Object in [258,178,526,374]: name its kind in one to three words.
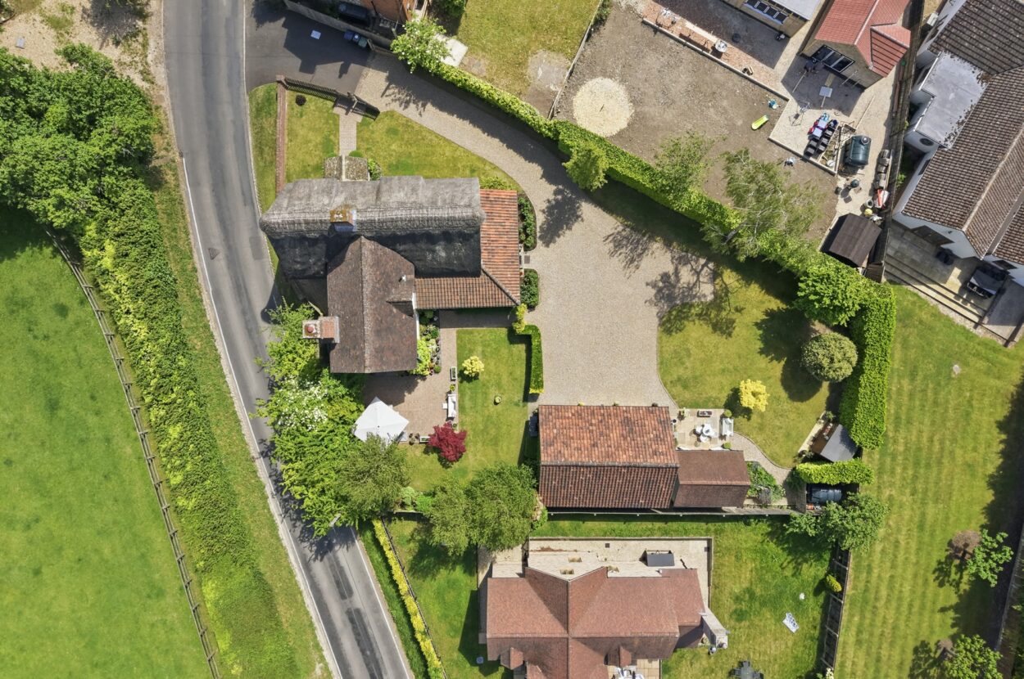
house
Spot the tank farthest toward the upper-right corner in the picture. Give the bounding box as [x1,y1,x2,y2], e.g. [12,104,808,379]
[842,136,872,170]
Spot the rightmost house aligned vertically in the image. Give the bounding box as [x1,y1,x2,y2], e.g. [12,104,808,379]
[893,0,1024,283]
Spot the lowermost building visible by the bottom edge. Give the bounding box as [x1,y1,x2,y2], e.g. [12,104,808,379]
[485,556,728,679]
